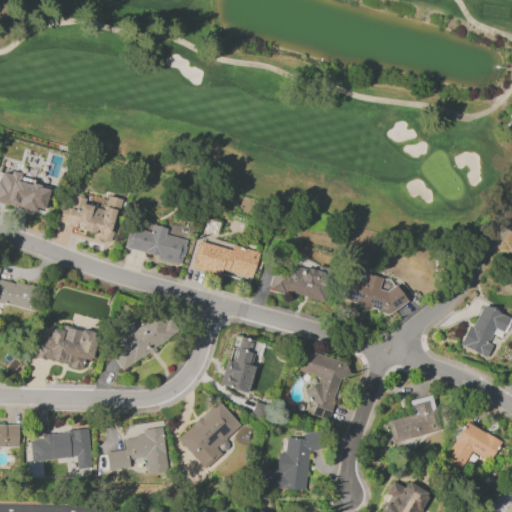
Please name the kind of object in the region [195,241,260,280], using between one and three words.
house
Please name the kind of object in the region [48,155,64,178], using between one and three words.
swimming pool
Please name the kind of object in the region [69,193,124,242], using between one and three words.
house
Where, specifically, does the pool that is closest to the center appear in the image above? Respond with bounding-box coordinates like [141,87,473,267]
[290,376,304,404]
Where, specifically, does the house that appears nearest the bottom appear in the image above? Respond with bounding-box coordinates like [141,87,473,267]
[381,478,432,512]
